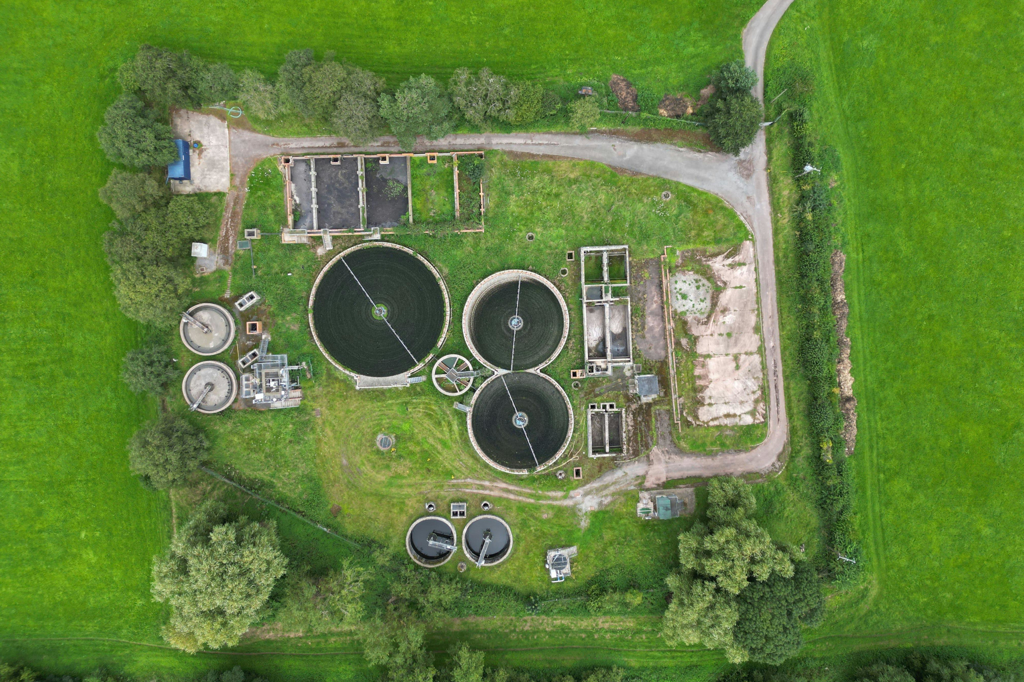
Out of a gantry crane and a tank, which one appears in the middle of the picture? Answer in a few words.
tank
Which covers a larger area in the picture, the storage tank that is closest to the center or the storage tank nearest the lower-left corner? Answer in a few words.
the storage tank that is closest to the center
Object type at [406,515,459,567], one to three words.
storage tank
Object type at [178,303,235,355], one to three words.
storage tank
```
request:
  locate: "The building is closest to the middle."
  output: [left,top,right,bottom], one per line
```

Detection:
[629,365,659,403]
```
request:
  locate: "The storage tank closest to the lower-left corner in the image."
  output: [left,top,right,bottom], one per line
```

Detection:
[184,361,238,413]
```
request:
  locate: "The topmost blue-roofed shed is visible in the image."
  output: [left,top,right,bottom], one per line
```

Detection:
[166,139,193,184]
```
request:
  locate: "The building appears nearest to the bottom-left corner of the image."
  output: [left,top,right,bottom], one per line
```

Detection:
[239,333,305,410]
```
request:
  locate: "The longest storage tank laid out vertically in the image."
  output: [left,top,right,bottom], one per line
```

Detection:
[579,245,634,377]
